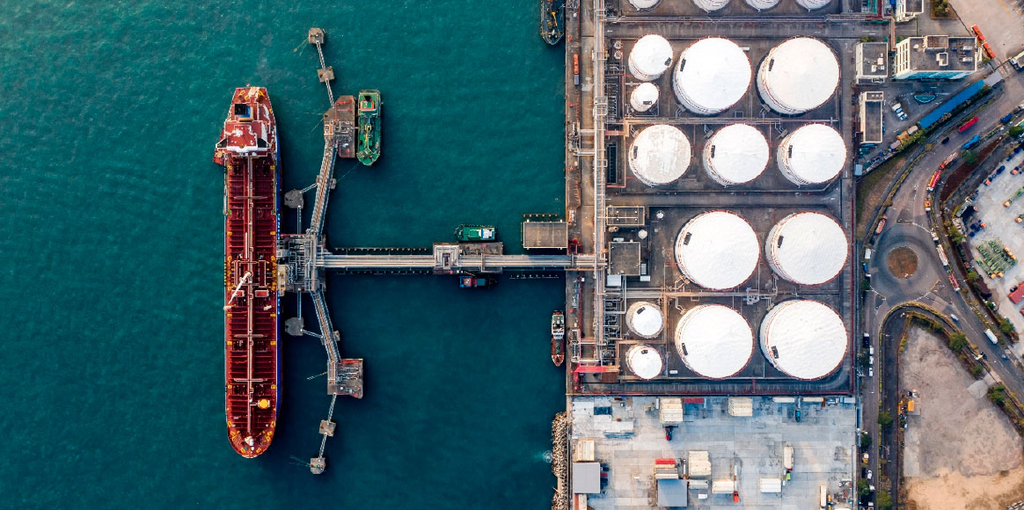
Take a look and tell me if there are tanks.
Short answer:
Yes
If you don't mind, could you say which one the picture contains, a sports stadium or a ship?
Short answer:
ship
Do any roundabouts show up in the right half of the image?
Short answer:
Yes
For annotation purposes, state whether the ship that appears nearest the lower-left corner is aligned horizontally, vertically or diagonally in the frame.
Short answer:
vertically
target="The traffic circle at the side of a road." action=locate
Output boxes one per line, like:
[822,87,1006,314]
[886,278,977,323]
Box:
[868,228,937,296]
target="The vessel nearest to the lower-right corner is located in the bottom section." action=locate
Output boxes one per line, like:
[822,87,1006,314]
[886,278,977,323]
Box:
[551,311,565,366]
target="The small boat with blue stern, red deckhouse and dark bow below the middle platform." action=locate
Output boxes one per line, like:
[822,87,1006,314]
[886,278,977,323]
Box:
[460,270,498,289]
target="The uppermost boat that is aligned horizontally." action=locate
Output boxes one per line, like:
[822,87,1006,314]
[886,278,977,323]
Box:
[454,223,498,242]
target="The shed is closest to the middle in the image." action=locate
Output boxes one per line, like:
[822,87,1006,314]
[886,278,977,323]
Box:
[520,219,568,250]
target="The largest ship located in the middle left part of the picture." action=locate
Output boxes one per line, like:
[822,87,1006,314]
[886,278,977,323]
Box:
[213,84,282,458]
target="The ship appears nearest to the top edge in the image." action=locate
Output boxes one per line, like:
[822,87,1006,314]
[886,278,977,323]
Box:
[541,0,564,45]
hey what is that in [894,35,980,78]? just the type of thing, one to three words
building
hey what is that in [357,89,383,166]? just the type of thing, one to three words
ship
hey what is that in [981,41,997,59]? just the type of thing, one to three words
vehicle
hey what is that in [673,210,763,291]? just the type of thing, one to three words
storage tank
